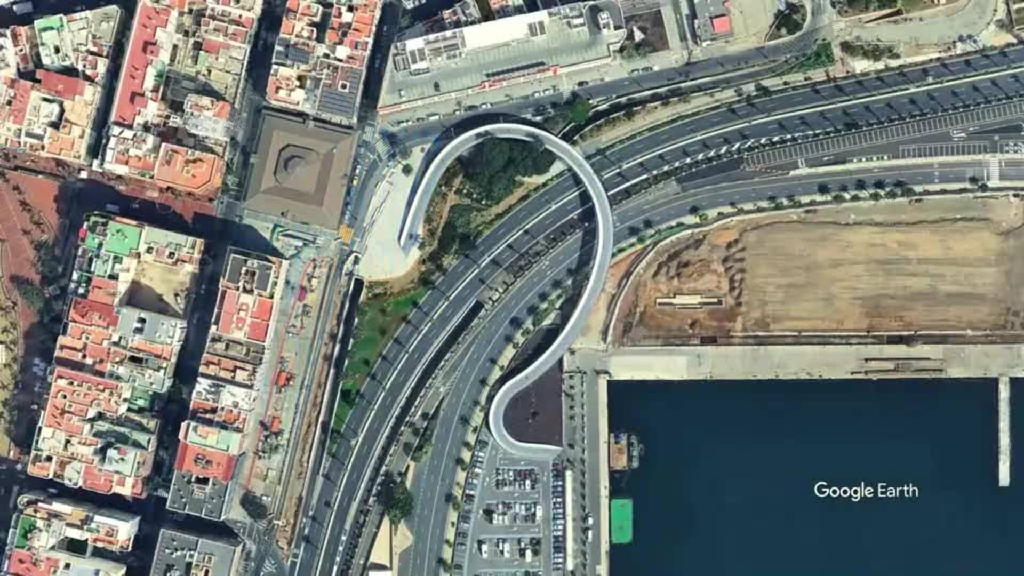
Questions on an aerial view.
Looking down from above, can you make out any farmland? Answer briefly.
No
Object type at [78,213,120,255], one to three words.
building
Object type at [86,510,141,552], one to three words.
building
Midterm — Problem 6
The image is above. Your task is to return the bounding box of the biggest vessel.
[610,433,627,470]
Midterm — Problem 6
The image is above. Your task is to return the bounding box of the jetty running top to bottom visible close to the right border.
[998,377,1010,485]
